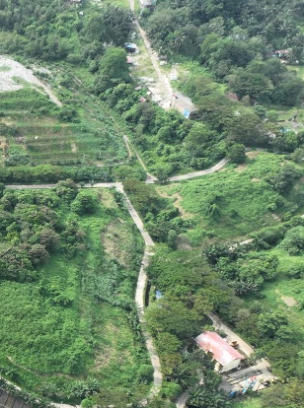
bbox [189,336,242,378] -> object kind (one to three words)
building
